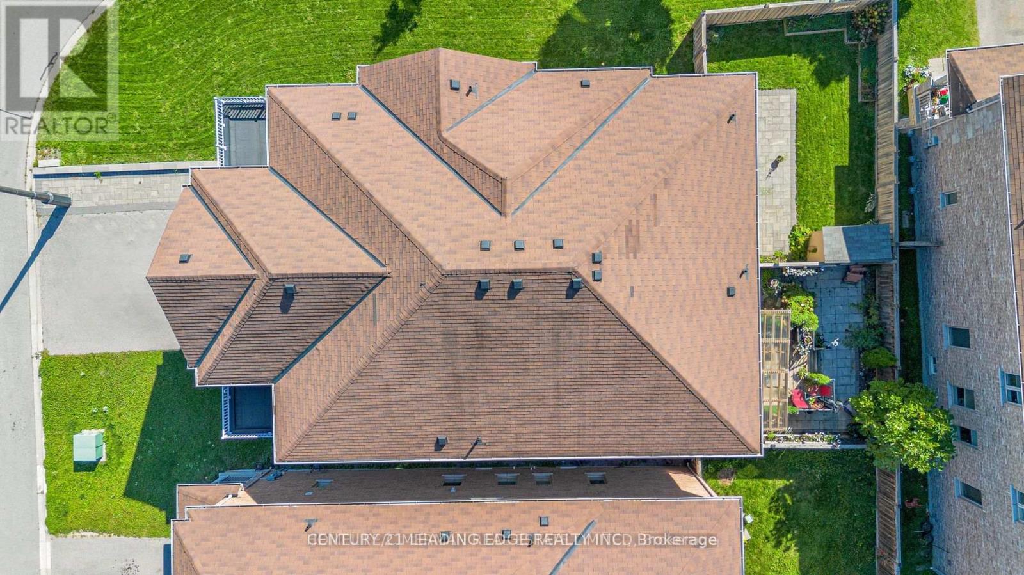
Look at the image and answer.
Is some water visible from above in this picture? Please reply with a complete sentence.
No, water can't be seen anywhere here.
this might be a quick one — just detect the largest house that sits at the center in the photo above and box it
[145,48,763,463]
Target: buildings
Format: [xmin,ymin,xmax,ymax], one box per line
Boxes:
[145,48,763,463]
[907,42,1024,575]
[171,461,744,575]
[808,222,889,263]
